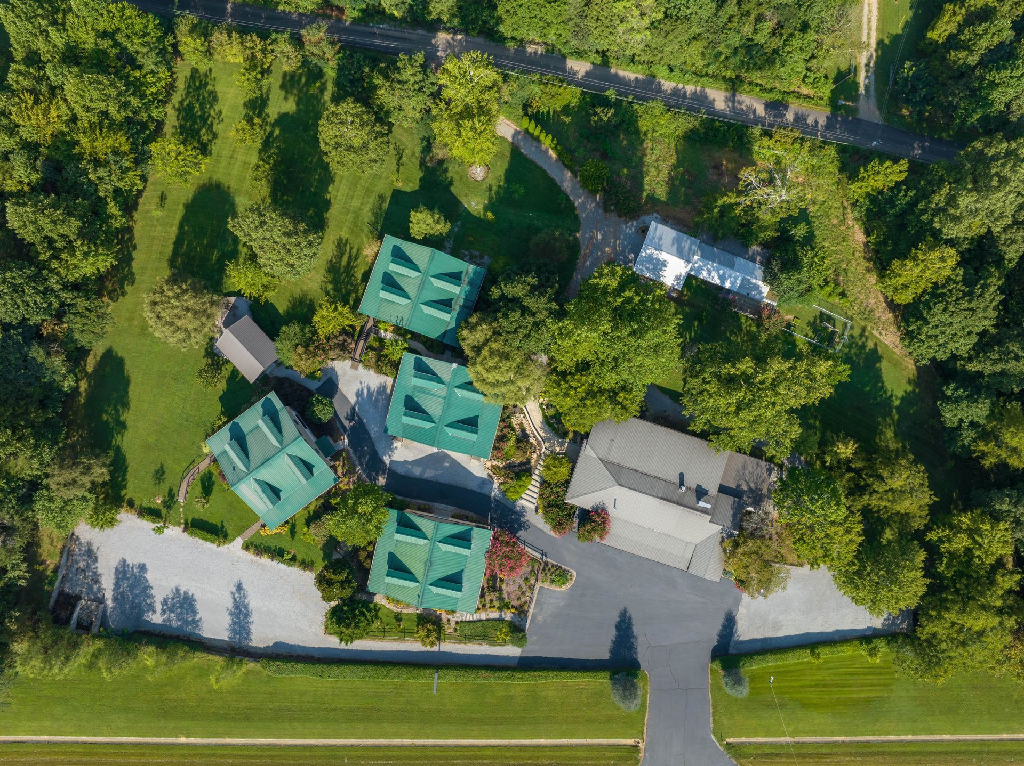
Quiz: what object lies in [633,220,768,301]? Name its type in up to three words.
house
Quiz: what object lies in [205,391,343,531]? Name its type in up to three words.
building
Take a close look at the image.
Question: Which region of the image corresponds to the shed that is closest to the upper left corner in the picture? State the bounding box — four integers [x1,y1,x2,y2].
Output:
[216,315,281,383]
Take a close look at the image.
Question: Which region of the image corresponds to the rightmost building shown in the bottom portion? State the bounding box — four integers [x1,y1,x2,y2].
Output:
[565,410,772,583]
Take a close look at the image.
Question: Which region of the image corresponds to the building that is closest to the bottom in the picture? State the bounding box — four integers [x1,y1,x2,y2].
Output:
[367,507,494,615]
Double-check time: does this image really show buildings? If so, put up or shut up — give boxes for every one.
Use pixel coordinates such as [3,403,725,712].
[216,315,281,383]
[633,220,768,301]
[205,391,343,531]
[383,353,507,460]
[367,507,494,615]
[565,410,772,583]
[358,235,487,347]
